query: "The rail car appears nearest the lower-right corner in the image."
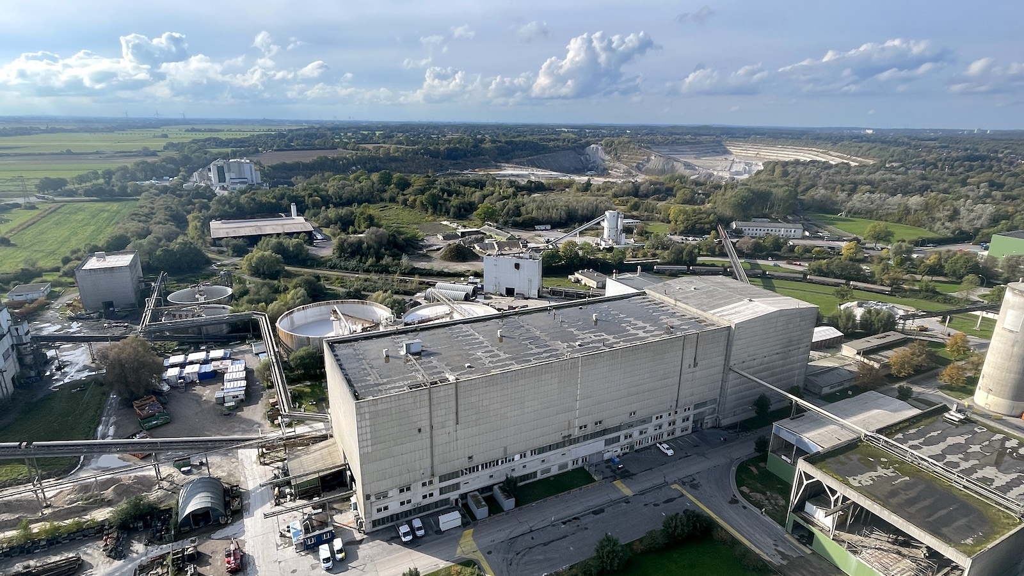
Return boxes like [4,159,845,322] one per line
[857,284,894,296]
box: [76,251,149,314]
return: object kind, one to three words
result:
building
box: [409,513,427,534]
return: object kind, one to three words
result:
car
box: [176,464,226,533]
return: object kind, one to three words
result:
shed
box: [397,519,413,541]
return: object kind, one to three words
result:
car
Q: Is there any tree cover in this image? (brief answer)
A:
Yes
